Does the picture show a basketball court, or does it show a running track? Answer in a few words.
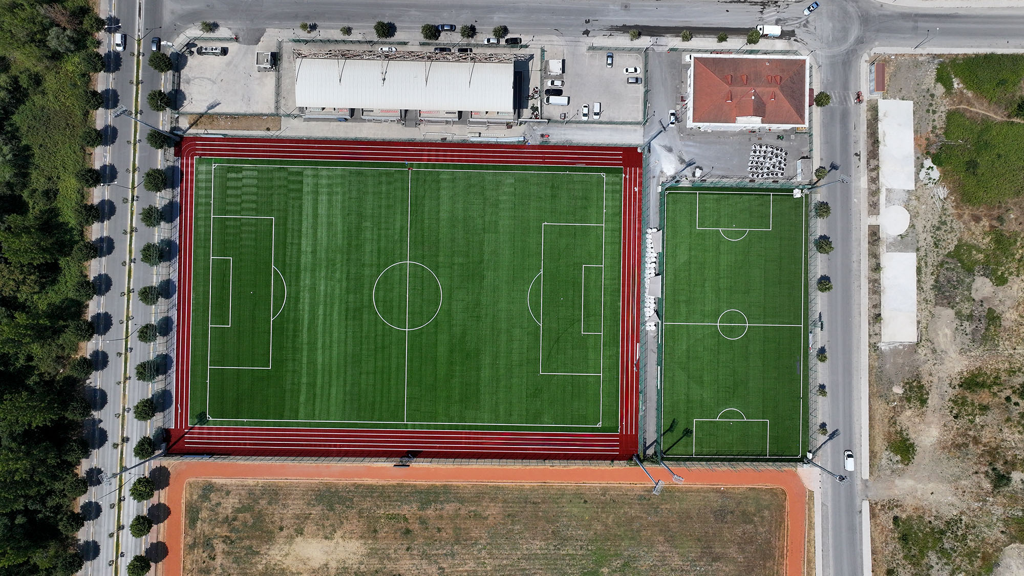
running track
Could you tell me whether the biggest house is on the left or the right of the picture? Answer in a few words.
right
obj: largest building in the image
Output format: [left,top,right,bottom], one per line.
[677,54,814,131]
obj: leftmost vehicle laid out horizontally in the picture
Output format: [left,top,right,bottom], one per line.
[197,45,227,57]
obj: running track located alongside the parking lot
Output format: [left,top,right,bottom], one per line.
[165,137,643,461]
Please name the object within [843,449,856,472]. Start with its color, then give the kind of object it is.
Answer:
white vehicle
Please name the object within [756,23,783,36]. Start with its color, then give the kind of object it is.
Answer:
white vehicle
